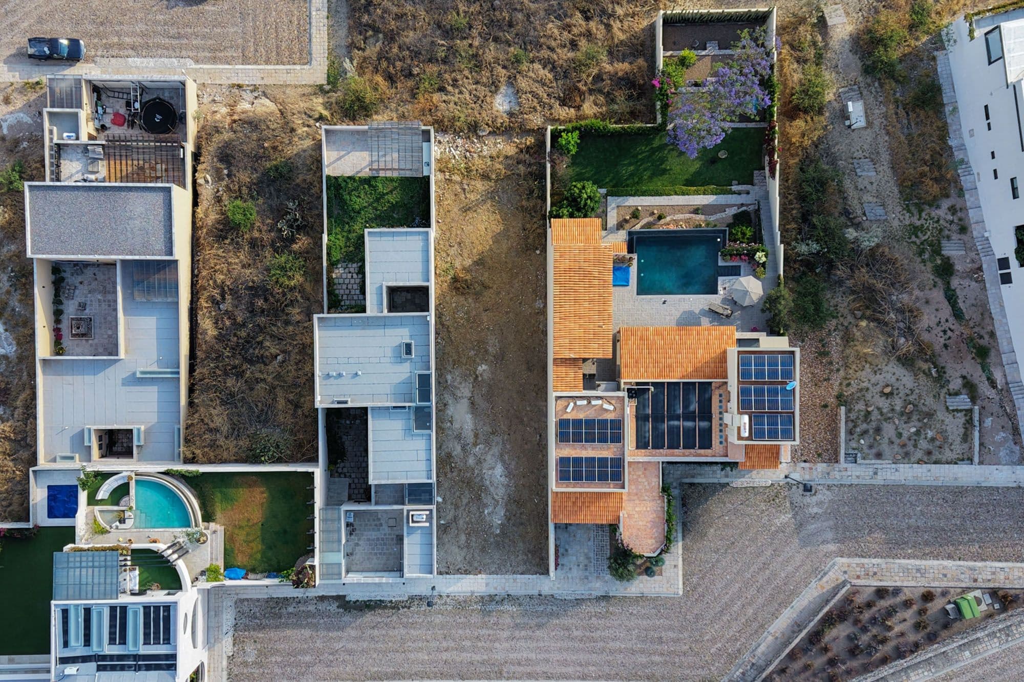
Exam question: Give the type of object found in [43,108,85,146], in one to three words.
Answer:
building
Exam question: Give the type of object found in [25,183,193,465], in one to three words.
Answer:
house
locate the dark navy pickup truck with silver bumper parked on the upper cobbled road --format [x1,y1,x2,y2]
[23,33,83,60]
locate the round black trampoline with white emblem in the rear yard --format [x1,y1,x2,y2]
[134,91,182,140]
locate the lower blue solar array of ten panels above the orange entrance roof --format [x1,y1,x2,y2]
[559,457,622,482]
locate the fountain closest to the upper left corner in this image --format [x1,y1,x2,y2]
[66,316,93,340]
